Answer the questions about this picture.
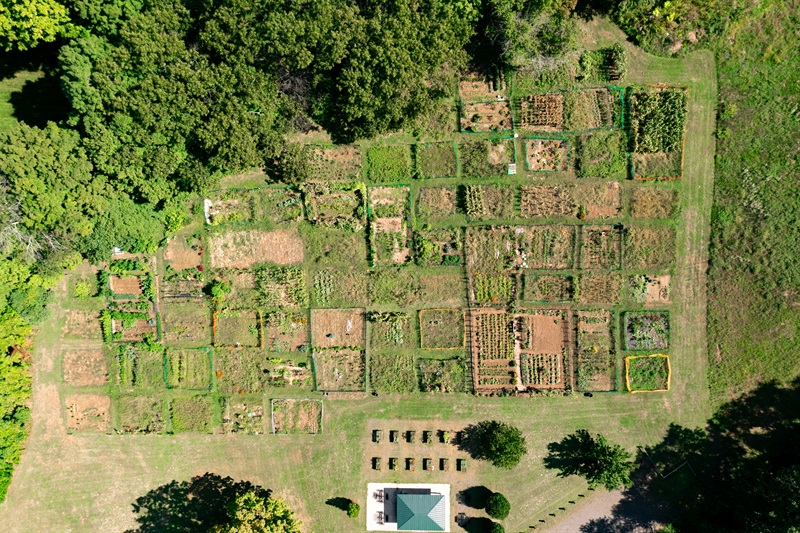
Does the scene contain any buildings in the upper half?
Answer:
No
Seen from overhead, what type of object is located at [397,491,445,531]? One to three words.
building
